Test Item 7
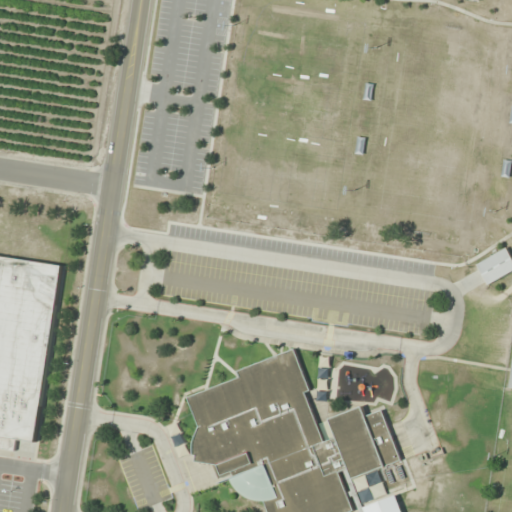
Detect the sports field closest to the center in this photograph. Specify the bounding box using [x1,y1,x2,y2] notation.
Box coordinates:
[236,150,350,214]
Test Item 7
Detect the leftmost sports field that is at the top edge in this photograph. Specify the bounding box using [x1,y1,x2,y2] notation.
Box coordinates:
[248,18,352,126]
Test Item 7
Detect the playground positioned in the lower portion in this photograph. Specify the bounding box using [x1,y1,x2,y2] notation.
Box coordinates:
[332,362,398,406]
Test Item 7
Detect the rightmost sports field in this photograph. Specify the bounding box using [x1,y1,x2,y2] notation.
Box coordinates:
[382,34,488,202]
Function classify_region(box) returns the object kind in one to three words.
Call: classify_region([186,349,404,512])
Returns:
building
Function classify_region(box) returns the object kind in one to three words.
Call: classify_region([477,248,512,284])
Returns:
building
